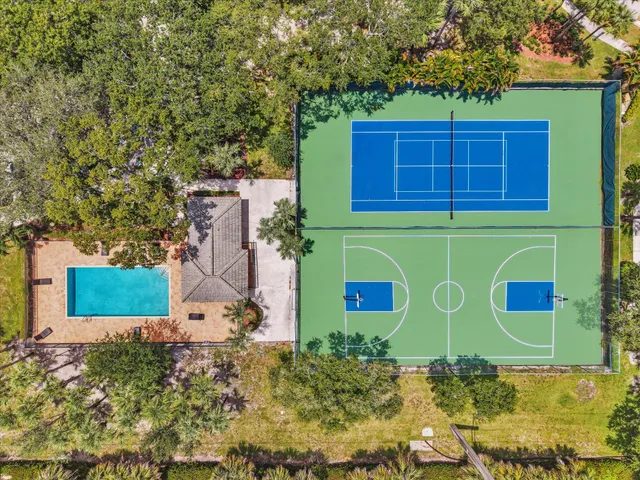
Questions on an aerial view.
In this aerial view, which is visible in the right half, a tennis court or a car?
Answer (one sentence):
What appears in the right half is a tennis court.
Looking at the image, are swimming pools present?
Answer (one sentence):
Yes, there is a swimming pool in the image.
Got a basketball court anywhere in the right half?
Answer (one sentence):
Yes, looking in the right half, one can make out a basketball court.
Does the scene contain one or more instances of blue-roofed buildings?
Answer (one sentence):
No, no blue-roofed building can be seen from above.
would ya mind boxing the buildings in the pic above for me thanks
[181,196,249,302]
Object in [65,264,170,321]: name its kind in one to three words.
swimming pool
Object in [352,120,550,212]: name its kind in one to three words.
tennis court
